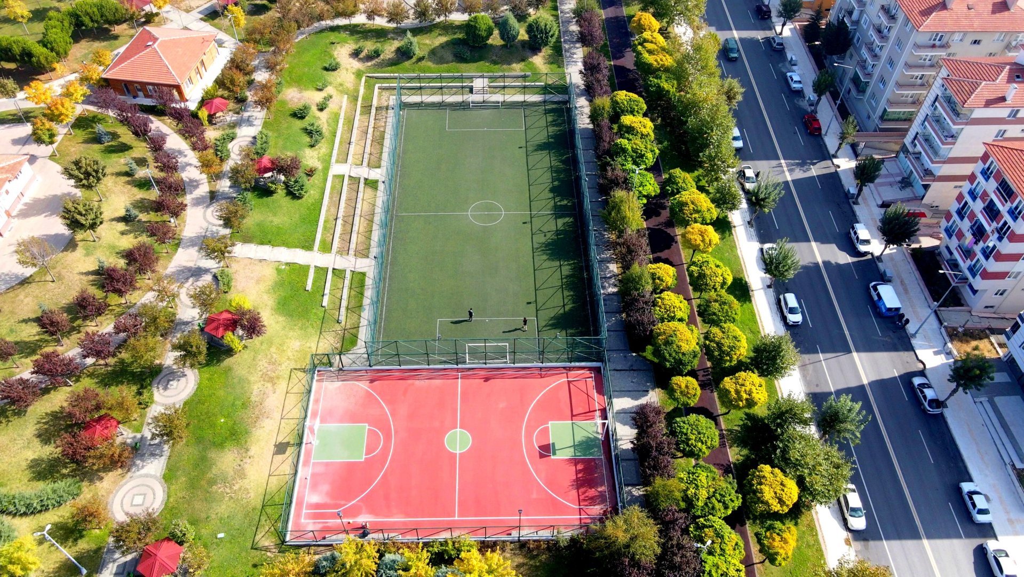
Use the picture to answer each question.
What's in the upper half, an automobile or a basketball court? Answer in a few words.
automobile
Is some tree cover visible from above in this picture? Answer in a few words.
Yes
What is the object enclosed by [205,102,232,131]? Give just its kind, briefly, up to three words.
gazebo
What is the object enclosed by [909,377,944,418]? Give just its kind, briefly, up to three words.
car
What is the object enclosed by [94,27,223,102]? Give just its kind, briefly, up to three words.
building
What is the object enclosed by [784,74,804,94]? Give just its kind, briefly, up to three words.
car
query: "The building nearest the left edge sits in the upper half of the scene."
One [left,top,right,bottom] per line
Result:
[0,150,43,238]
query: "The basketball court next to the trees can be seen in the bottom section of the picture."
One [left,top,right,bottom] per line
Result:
[282,363,624,545]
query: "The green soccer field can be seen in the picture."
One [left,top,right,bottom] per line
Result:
[368,102,603,366]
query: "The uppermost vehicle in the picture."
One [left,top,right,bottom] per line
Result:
[755,2,773,20]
